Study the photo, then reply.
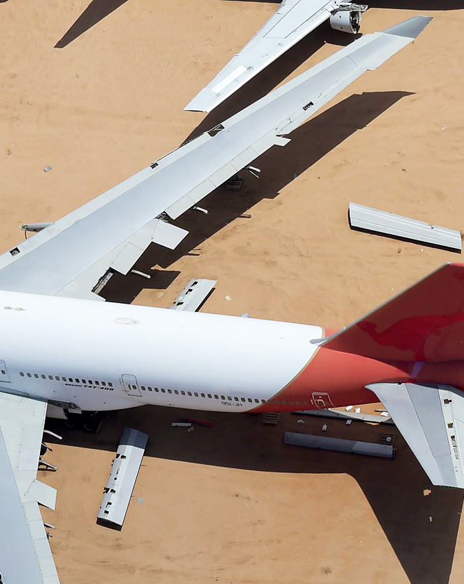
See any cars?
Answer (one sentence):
No, I find no car anywhere in the image.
